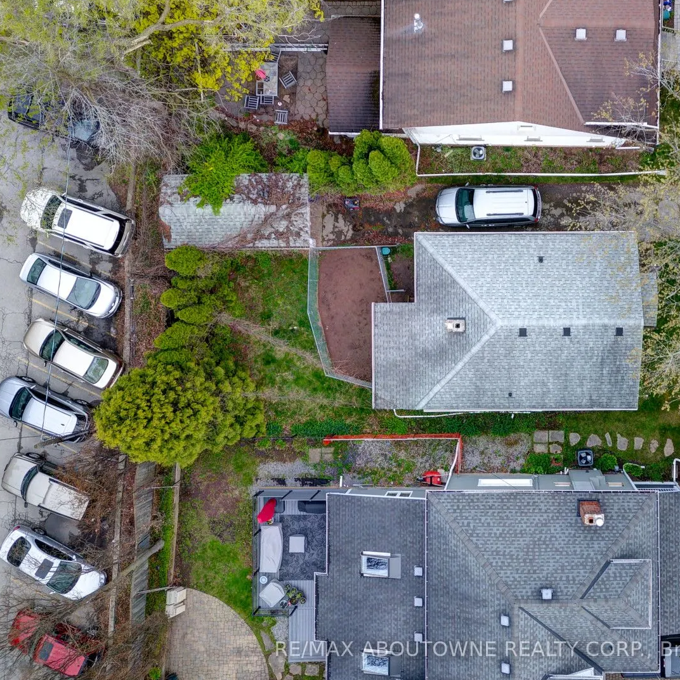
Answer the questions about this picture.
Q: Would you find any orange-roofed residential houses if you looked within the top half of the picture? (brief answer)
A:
No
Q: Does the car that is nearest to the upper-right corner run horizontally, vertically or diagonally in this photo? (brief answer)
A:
horizontally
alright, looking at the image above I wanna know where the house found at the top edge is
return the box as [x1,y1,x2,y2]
[326,0,662,147]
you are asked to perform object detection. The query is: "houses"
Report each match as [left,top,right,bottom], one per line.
[311,459,680,680]
[370,228,657,418]
[326,0,662,147]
